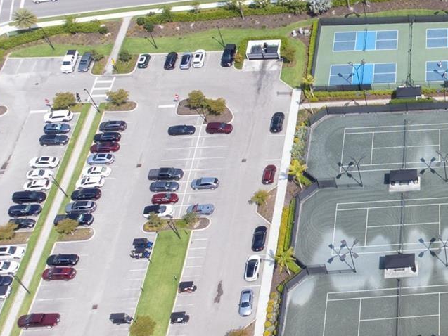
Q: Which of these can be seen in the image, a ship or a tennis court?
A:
tennis court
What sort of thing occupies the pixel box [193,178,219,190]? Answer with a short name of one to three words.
vehicle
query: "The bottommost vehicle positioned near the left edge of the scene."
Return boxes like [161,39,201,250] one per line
[19,312,60,328]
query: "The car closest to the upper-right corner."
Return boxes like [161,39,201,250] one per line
[270,112,285,133]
